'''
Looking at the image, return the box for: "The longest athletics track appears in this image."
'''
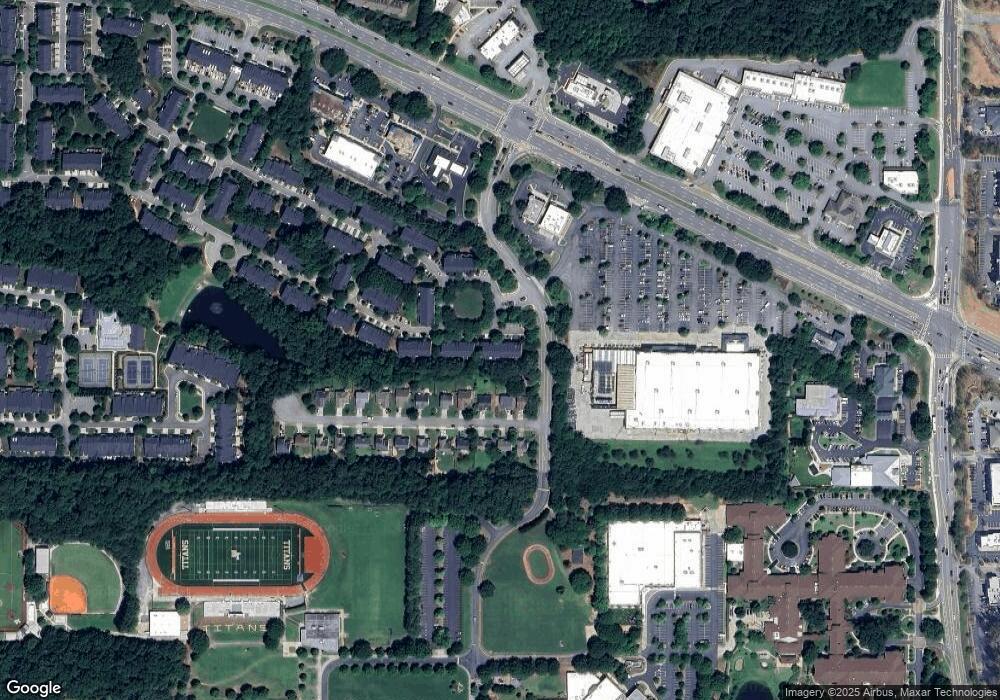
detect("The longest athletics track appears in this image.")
[146,512,331,597]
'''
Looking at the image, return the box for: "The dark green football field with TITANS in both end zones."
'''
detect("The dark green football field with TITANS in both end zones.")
[156,522,315,586]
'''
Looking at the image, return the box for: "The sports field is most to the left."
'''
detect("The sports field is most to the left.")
[0,520,24,625]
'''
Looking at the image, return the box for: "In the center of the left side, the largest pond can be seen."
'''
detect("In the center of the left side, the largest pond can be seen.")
[181,287,285,358]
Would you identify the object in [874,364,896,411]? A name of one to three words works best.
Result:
building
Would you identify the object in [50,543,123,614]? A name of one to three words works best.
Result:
baseball field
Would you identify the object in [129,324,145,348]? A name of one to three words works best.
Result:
building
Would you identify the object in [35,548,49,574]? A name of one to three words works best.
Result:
shed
